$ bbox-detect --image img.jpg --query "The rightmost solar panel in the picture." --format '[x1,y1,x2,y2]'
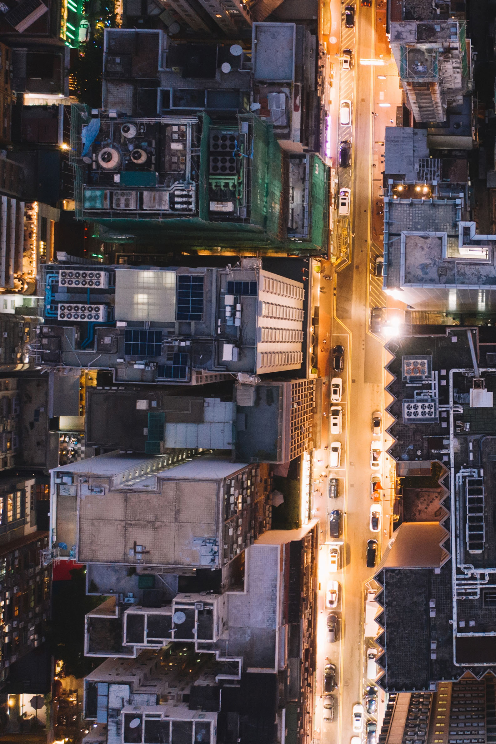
[227,281,256,294]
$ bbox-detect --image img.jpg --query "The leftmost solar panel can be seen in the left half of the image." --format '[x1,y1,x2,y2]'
[125,329,163,357]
